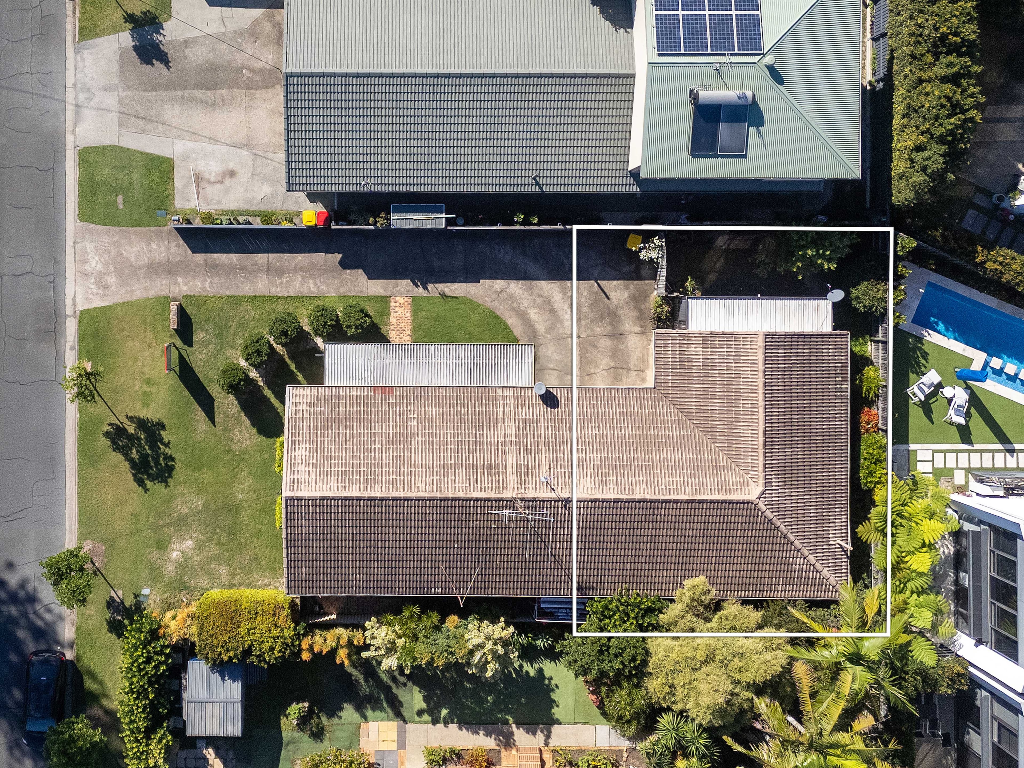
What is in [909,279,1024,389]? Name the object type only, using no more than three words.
swimming pool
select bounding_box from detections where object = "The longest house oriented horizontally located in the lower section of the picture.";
[280,327,854,601]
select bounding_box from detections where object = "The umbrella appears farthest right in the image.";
[950,367,987,380]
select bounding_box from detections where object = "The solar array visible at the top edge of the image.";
[655,0,763,53]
